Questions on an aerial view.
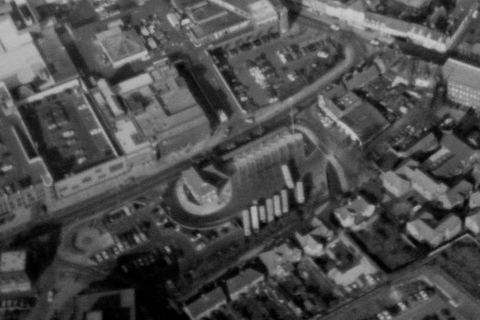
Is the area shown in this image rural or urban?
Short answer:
urban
